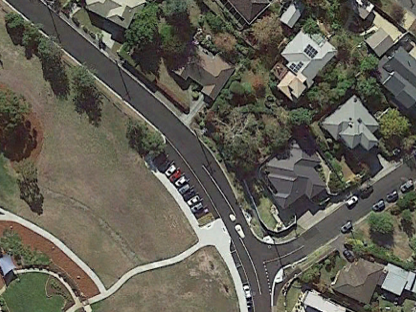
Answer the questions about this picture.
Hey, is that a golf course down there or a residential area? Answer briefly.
residential area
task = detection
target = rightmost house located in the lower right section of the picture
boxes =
[381,265,416,295]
